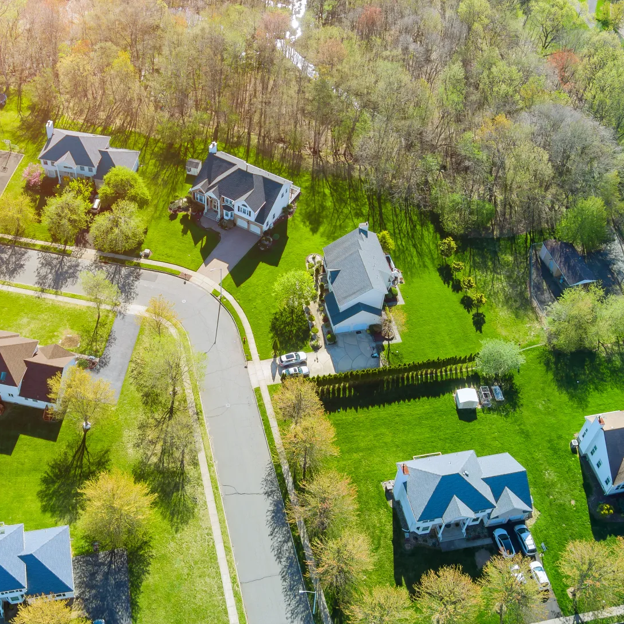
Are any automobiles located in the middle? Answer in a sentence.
Yes, there is an automobile in the middle.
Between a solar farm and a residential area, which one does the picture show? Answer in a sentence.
This image shows a residential area.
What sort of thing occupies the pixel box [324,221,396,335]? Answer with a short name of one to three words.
house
